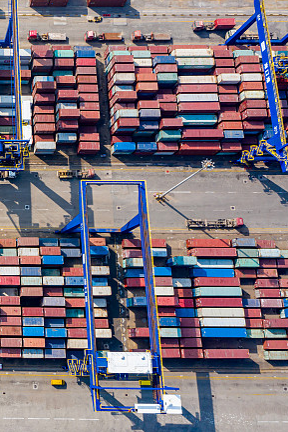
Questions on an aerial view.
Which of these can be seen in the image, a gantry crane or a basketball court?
gantry crane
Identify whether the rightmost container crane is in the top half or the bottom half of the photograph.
top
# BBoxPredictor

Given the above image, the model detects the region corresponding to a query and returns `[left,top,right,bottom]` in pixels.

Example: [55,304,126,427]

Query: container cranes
[218,0,288,174]
[55,176,187,416]
[0,0,37,172]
